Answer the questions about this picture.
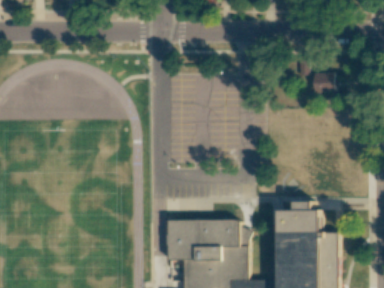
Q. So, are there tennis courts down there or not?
No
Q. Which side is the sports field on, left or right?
left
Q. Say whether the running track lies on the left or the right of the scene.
left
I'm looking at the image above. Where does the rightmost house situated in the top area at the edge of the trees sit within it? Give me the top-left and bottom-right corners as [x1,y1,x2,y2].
[314,72,336,92]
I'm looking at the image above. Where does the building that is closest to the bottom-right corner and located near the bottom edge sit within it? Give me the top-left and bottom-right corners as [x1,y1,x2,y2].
[275,201,344,288]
